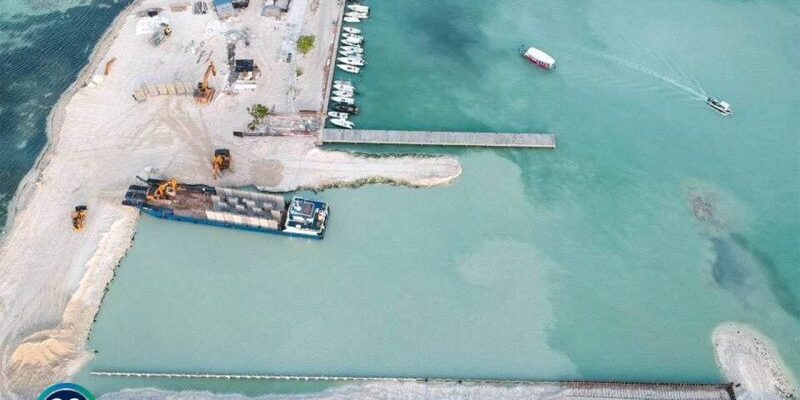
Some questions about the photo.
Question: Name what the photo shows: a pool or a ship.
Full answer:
There is a ship in the scene.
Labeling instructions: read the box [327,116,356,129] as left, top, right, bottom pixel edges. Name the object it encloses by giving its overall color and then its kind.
white boat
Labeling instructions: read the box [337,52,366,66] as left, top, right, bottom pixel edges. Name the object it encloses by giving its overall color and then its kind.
white boat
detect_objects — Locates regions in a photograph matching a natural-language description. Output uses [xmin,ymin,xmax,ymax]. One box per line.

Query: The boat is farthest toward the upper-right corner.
[705,95,734,113]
